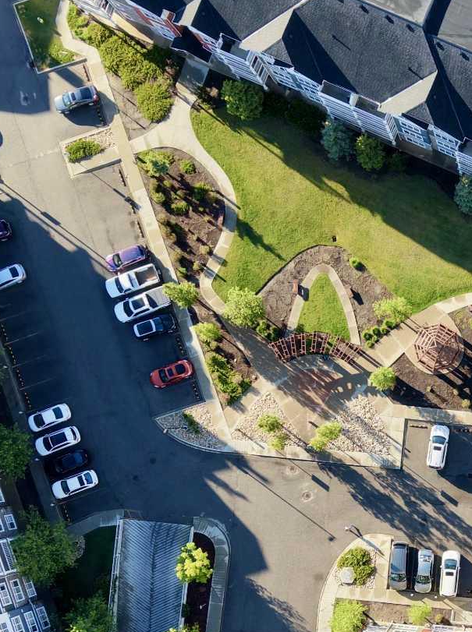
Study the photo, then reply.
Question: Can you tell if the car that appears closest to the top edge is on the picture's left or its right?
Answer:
left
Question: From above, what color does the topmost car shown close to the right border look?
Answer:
white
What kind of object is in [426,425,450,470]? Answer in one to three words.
car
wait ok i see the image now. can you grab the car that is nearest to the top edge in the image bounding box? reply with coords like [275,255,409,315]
[54,83,102,112]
